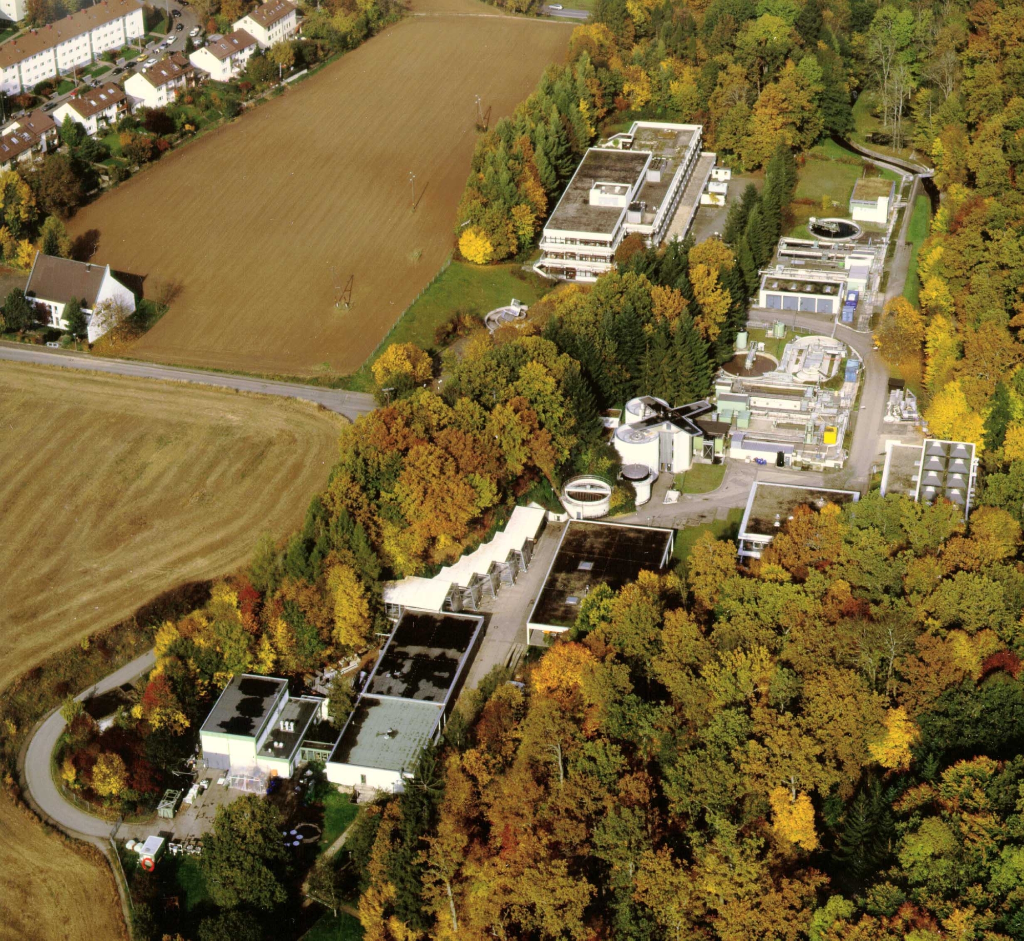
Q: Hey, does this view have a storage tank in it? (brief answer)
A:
Yes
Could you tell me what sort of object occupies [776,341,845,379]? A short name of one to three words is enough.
storage tank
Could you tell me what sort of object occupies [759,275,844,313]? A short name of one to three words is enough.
building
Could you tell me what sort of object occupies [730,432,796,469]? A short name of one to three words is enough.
shed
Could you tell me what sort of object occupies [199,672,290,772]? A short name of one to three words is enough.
building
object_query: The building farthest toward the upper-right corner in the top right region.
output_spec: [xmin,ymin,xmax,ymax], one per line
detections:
[849,178,899,222]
